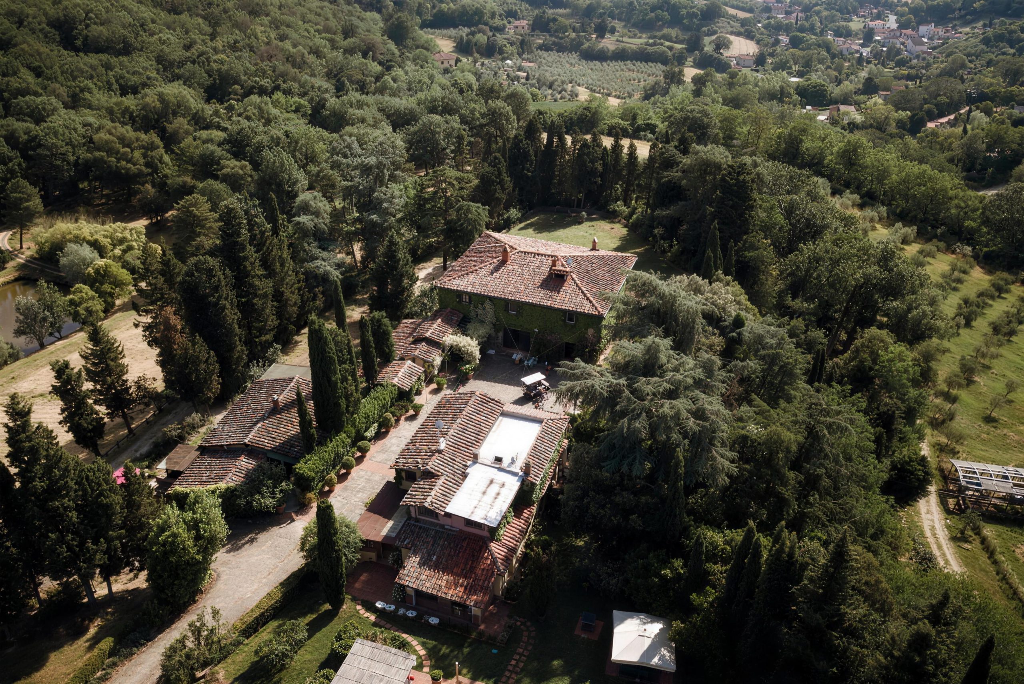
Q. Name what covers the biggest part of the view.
trees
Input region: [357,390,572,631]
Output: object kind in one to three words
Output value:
house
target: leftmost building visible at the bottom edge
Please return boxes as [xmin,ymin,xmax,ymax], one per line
[332,640,419,684]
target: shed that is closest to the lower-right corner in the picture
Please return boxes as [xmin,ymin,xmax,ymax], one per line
[944,458,1024,522]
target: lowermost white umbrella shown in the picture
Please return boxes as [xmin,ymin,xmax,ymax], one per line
[606,610,678,678]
